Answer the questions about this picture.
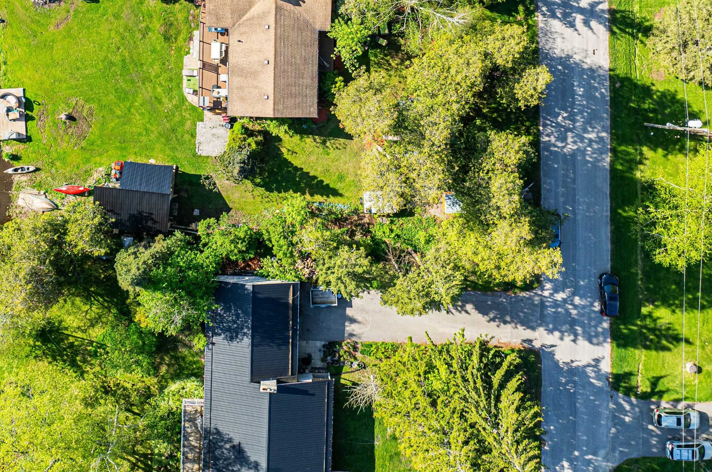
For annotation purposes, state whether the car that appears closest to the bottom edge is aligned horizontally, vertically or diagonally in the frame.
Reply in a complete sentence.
The car that appears closest to the bottom edge runs horizontally in the image.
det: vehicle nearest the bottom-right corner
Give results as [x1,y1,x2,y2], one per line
[664,438,711,461]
